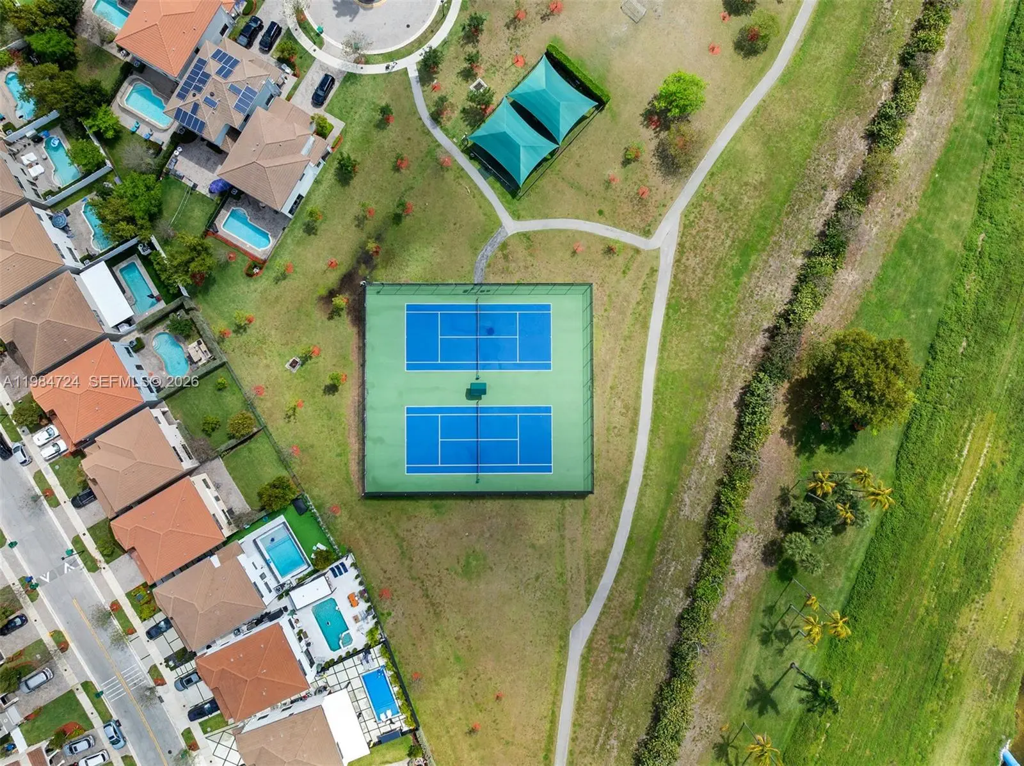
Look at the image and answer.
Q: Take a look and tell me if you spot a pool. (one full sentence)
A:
Yes, a pool appears in the view.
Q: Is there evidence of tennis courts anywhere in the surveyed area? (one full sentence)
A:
Yes, looking at the shot, I can spot a tennis court.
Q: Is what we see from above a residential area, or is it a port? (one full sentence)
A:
This looks like a residential area.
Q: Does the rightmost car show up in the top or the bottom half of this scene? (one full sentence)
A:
It is in the top half that the rightmost car appears.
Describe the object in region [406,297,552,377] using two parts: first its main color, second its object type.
blue tennis court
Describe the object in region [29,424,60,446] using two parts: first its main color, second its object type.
white car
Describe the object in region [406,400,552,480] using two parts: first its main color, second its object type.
blue tennis court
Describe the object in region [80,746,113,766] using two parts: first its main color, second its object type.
white car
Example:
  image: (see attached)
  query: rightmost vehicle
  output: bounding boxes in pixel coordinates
[313,74,336,108]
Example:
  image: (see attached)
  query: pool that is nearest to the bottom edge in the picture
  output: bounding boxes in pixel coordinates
[360,668,401,724]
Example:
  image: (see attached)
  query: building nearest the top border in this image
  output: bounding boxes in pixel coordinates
[114,0,246,83]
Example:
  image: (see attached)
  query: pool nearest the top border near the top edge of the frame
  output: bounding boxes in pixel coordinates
[91,0,130,30]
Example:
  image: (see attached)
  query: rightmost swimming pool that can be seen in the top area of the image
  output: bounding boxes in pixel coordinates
[221,206,274,251]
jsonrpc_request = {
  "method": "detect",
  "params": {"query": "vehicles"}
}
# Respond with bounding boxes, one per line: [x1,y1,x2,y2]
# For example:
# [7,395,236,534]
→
[238,14,264,51]
[22,668,55,692]
[68,487,98,508]
[65,733,96,756]
[0,613,31,634]
[11,439,35,469]
[145,616,173,638]
[189,699,220,720]
[80,746,113,766]
[0,433,16,464]
[173,670,204,692]
[103,720,127,749]
[38,438,69,460]
[260,21,283,55]
[29,424,60,446]
[313,74,336,108]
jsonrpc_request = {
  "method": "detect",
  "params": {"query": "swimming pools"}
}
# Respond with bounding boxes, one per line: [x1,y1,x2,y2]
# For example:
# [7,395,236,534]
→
[116,259,161,316]
[120,77,178,132]
[340,633,354,649]
[255,522,309,582]
[42,134,81,188]
[310,596,351,653]
[360,668,401,724]
[91,0,130,30]
[80,200,109,251]
[151,330,190,379]
[221,206,274,251]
